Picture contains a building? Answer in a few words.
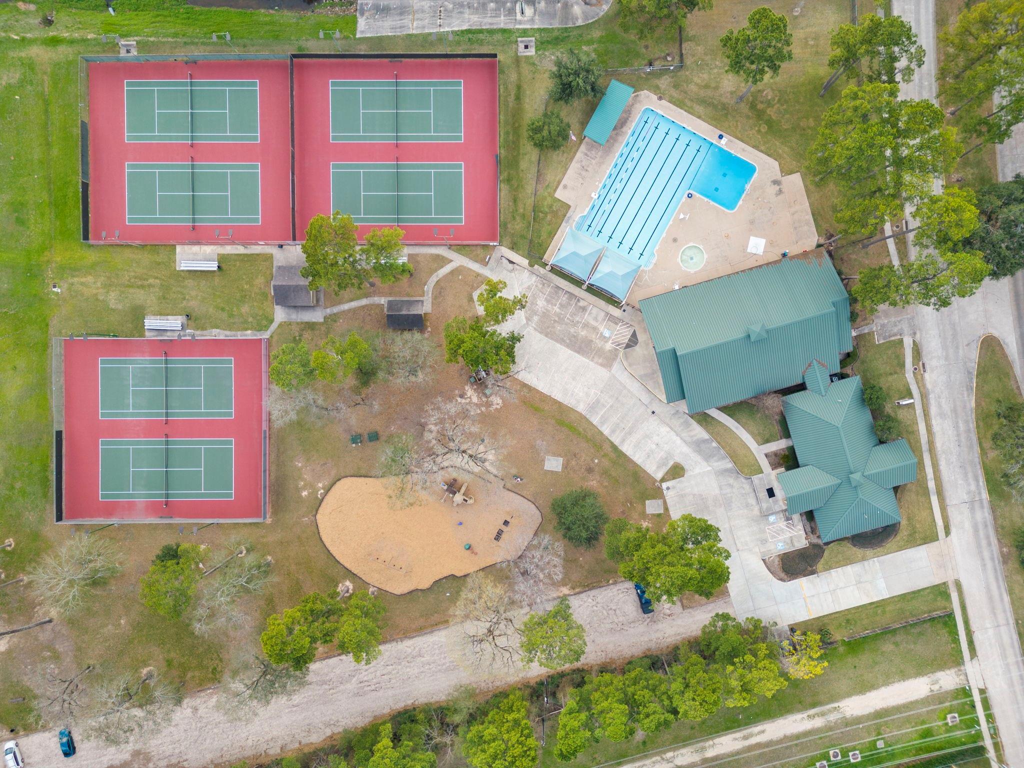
Yes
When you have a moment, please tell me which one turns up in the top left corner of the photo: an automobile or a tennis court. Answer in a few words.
tennis court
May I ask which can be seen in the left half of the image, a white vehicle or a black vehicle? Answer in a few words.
white vehicle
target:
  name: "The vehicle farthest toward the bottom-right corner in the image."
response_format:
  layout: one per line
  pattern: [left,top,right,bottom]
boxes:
[636,582,655,616]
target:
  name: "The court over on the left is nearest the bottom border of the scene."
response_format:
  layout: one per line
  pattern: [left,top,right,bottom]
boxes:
[65,428,268,519]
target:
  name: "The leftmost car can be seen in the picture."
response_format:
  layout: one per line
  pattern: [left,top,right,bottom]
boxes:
[4,739,24,768]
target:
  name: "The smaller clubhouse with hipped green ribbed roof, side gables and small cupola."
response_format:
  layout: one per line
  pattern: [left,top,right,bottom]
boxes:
[772,354,918,543]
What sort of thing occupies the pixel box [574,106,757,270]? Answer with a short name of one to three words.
swimming pool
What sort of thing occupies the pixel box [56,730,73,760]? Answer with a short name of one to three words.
car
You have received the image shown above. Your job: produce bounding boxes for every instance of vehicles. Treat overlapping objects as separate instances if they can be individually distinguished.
[636,582,655,616]
[4,739,24,768]
[56,730,73,760]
